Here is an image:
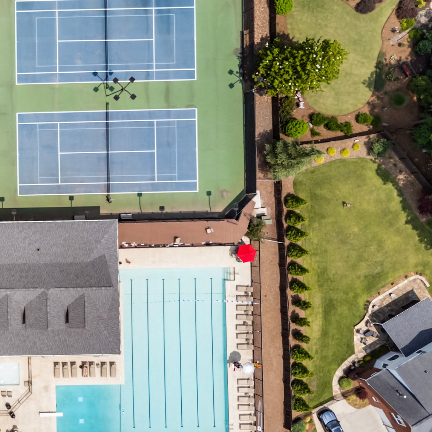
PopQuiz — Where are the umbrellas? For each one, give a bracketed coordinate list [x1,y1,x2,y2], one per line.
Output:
[242,362,254,374]
[235,243,254,262]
